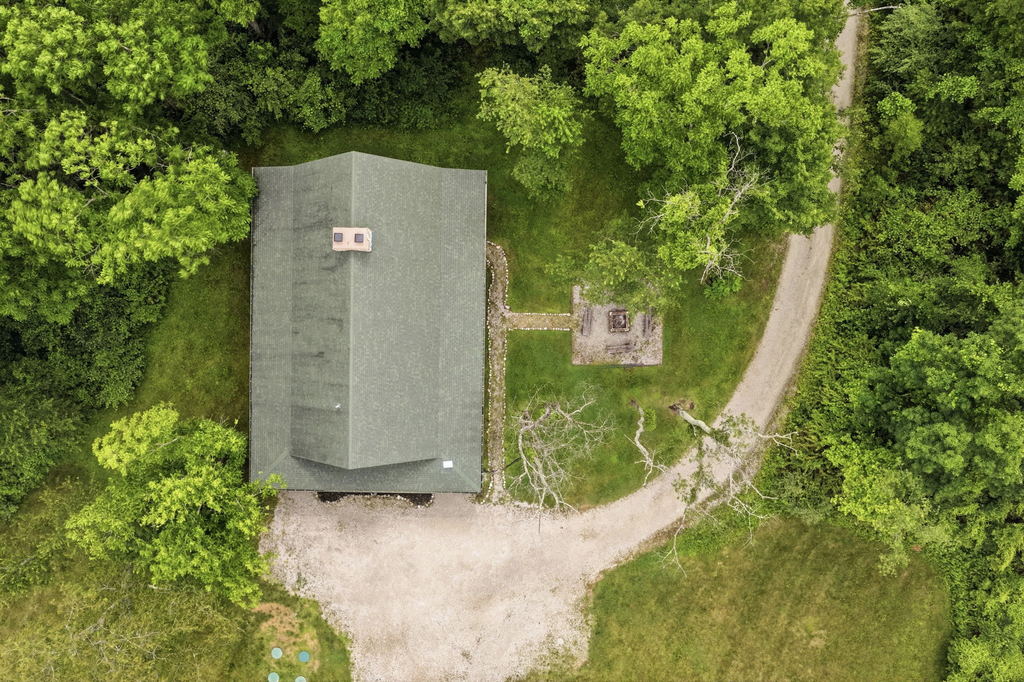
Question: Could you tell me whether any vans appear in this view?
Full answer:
No, no van is visible in the view.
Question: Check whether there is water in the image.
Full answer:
No, water can't be seen anywhere here.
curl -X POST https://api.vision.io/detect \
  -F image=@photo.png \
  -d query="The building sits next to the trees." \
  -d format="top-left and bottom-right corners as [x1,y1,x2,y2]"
[248,150,486,494]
